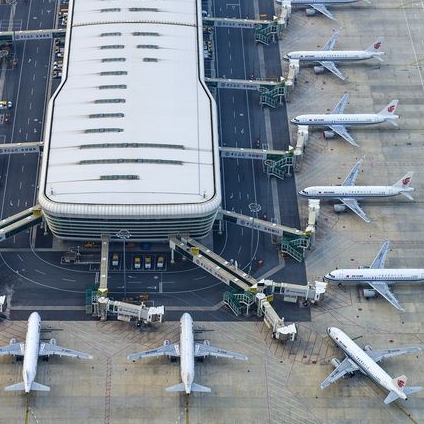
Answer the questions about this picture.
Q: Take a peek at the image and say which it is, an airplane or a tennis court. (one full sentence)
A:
It is an airplane that can be seen here.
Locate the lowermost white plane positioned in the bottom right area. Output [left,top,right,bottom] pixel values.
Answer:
[321,327,422,402]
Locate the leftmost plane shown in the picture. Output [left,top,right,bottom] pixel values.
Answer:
[0,311,89,394]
